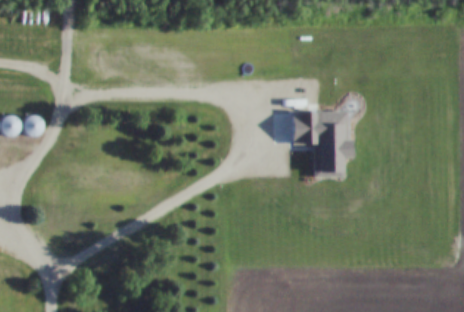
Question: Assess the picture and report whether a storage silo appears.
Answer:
Yes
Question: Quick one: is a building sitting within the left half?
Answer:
No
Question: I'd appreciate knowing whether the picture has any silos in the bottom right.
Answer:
No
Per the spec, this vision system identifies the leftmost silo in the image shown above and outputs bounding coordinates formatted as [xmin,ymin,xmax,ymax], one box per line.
[0,115,22,136]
